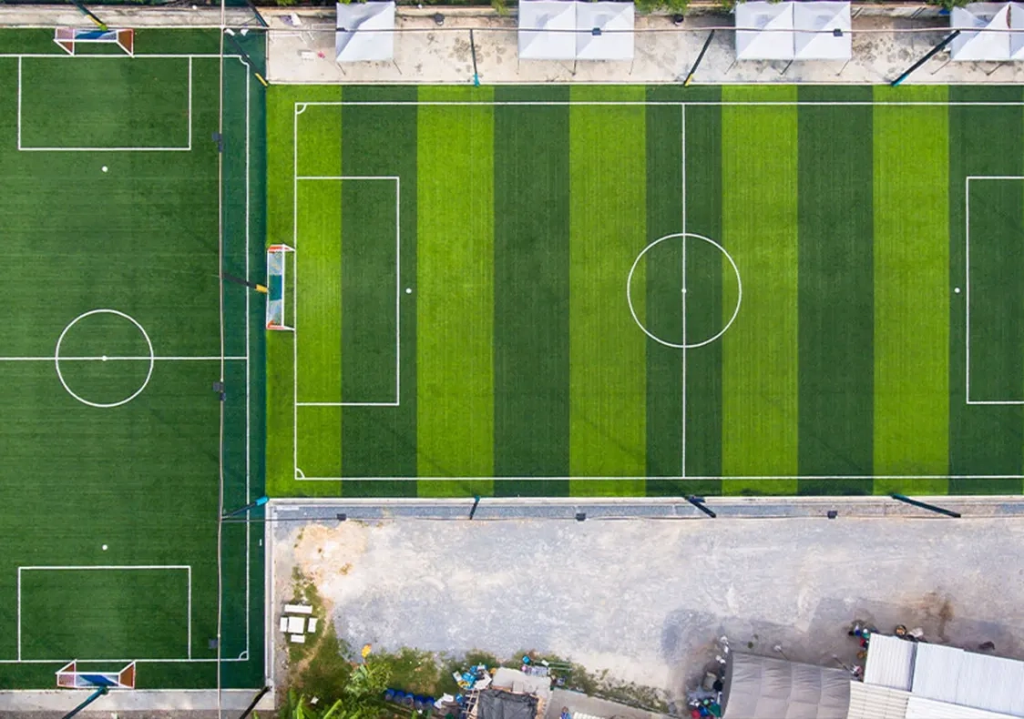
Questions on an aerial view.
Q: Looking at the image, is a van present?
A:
No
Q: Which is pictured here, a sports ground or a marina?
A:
sports ground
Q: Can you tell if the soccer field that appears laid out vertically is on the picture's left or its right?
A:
left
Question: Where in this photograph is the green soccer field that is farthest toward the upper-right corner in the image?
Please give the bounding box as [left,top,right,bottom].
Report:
[266,86,1024,498]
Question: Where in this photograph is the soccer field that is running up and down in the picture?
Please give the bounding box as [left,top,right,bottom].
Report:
[0,27,263,689]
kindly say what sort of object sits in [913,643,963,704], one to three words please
shed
